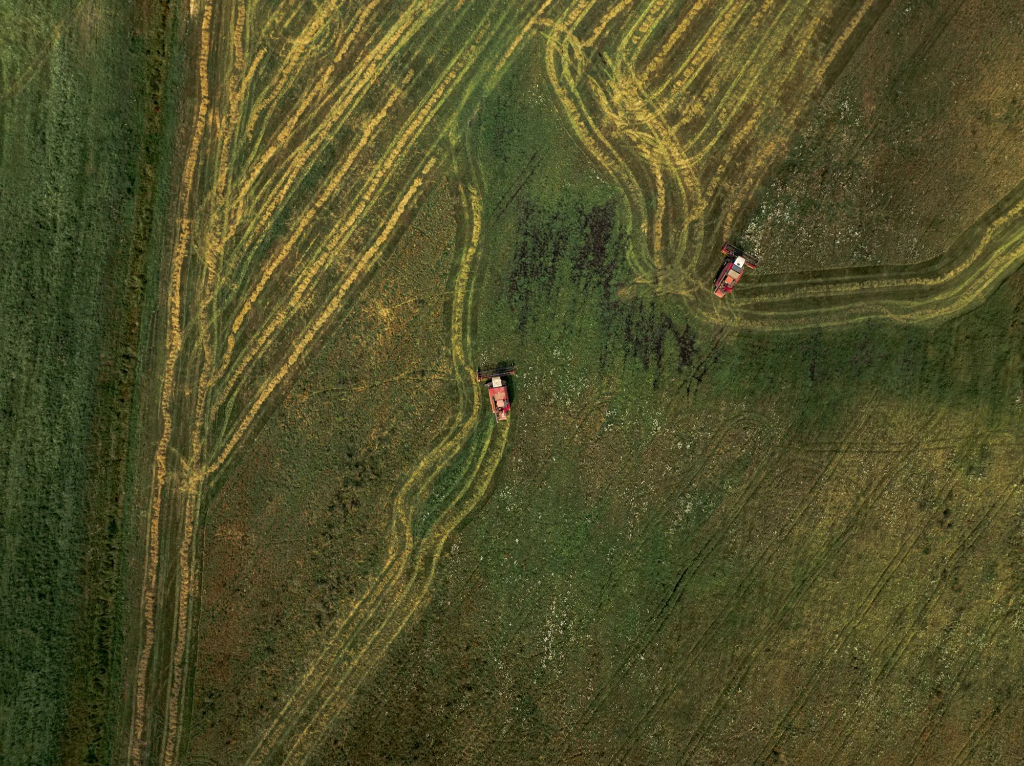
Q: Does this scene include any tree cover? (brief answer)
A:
No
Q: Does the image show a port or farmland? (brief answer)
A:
farmland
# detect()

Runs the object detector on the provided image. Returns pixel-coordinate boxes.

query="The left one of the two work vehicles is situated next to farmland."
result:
[474,360,516,426]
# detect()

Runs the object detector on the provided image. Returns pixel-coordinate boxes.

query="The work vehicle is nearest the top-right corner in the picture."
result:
[711,240,760,301]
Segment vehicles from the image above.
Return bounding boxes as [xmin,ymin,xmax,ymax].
[474,360,516,426]
[711,240,760,301]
